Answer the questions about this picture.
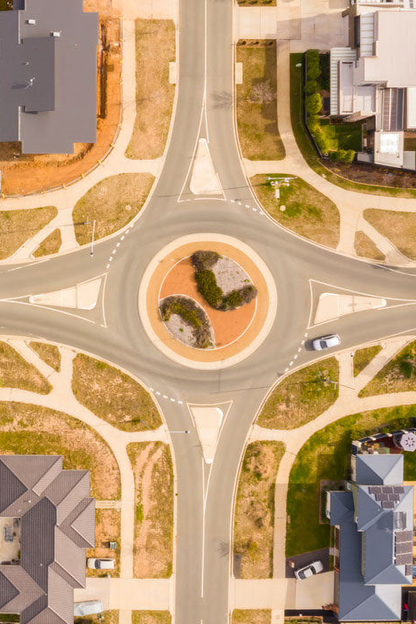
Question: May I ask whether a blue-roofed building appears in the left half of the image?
No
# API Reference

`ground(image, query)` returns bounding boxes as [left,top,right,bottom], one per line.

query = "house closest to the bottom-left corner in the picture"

[0,454,96,624]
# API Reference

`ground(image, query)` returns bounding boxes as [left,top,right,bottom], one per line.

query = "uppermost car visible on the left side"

[86,556,115,572]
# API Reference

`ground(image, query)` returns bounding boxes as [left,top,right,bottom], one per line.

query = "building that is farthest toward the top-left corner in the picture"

[0,0,97,157]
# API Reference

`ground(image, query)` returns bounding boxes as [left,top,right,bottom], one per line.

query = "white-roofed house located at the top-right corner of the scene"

[319,0,416,170]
